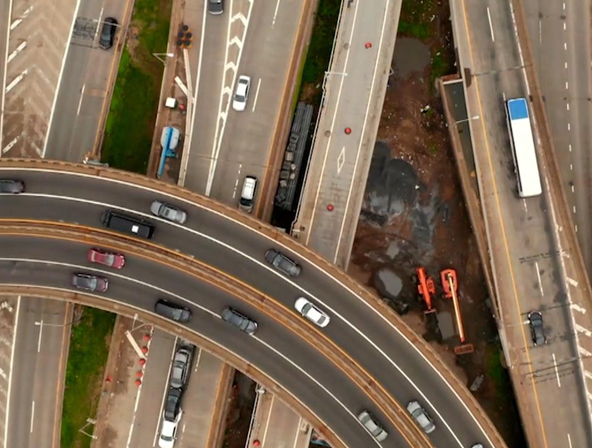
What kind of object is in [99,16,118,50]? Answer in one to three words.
car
